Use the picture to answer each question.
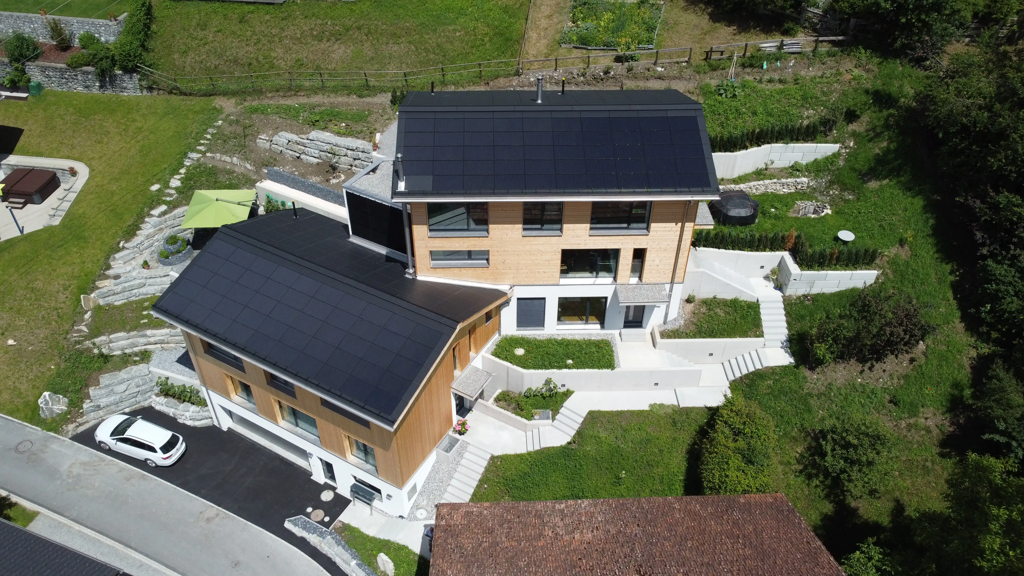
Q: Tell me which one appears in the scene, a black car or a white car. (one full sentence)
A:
Of the two, only a white car appears.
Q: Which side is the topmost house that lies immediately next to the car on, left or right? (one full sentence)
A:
The topmost house that lies immediately next to the car sits on the left side.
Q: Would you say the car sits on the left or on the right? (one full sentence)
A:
The car is on the left side of the image.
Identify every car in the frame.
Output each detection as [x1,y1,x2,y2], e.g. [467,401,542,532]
[89,409,188,470]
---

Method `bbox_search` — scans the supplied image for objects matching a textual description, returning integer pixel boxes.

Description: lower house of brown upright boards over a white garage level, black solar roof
[148,201,511,520]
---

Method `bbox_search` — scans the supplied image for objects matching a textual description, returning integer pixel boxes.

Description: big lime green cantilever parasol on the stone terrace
[181,162,261,228]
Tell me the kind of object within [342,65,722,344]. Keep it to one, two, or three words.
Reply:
house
